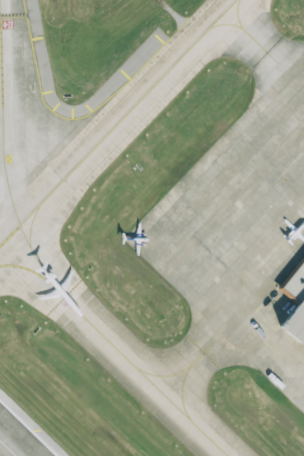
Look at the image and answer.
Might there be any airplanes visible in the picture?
Yes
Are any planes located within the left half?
Yes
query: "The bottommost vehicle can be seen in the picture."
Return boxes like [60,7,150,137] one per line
[268,372,286,390]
